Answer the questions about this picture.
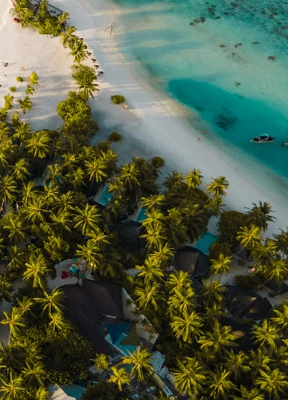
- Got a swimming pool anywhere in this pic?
Yes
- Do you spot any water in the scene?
Yes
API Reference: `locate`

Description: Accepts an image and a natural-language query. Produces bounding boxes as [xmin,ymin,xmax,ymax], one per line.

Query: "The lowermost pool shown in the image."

[115,334,139,360]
